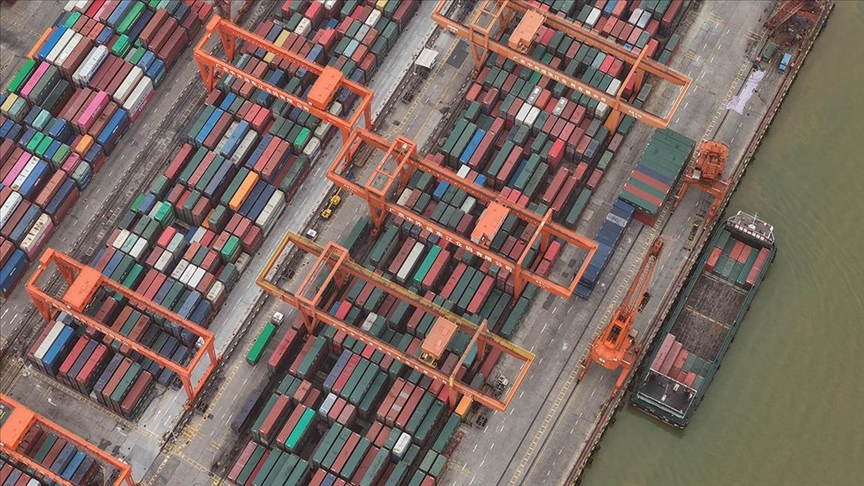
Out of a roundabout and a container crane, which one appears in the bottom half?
container crane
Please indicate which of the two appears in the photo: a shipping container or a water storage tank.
shipping container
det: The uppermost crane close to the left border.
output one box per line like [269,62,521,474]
[23,246,224,407]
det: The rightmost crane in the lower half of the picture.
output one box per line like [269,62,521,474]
[575,233,672,401]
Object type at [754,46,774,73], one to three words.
vehicle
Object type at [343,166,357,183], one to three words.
work vehicle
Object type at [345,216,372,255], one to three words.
shipping container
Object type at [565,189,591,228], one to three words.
shipping container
